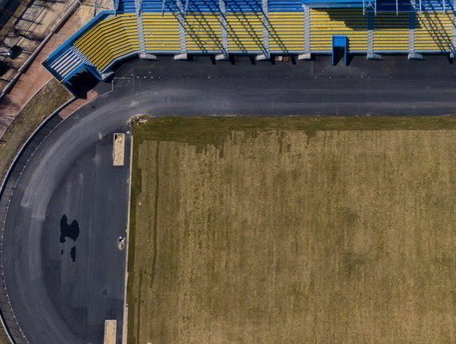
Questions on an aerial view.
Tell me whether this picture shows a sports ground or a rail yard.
sports ground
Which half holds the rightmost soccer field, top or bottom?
bottom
